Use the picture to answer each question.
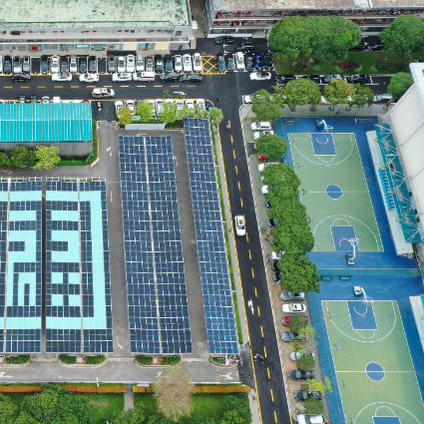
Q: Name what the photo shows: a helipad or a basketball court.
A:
basketball court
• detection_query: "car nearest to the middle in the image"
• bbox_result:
[234,216,247,237]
